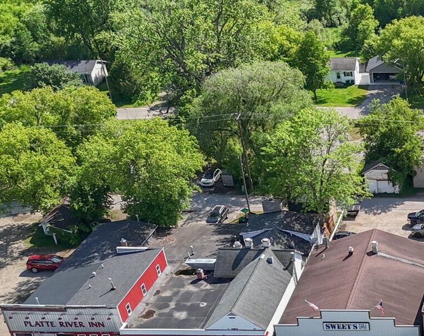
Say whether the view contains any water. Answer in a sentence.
No, the scene doesn't show any water.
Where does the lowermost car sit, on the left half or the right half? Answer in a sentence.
You can find the lowermost car on the left side of the picture.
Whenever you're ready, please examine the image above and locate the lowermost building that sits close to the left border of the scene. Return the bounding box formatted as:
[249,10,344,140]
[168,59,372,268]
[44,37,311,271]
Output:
[0,221,165,336]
